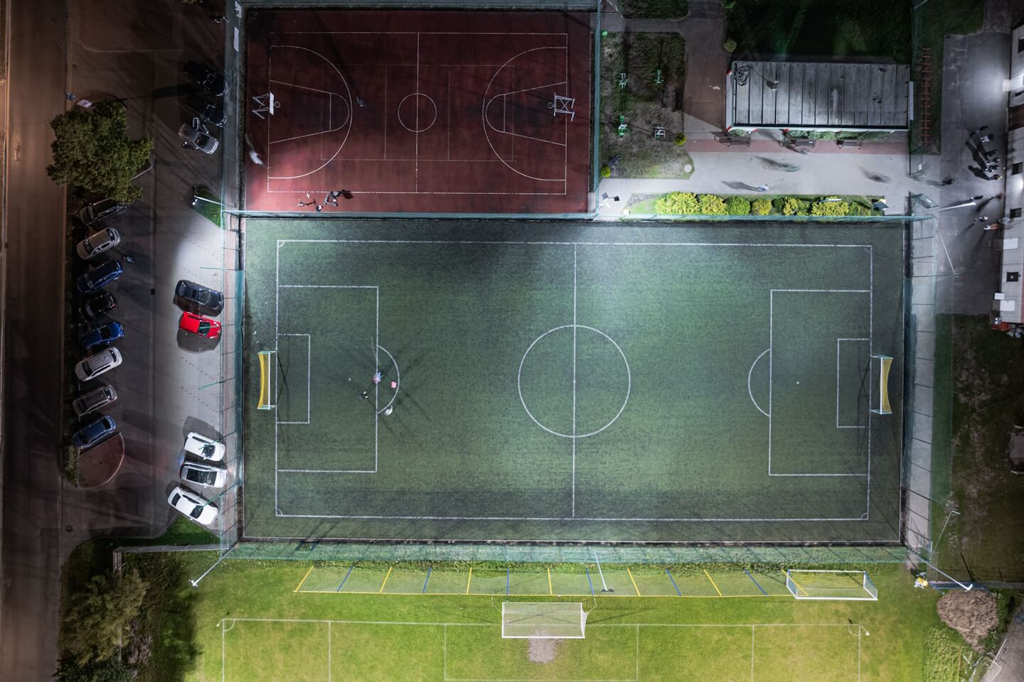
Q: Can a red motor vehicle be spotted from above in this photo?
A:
Yes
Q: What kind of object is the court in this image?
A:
basketball court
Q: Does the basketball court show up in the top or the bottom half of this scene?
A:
top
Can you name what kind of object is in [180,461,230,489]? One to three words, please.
car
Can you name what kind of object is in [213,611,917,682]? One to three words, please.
sports field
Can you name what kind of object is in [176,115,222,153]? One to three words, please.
car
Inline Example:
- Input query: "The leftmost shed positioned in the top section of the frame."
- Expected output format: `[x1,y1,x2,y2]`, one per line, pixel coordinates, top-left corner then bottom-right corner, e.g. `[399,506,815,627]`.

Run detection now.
[724,60,912,131]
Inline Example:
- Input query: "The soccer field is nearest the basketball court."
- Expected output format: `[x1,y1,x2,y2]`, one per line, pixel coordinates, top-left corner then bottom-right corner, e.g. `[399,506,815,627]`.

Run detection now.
[242,219,905,545]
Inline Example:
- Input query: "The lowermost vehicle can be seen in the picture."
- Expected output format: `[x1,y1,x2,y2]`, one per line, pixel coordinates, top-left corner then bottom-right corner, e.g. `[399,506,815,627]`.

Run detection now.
[169,487,220,523]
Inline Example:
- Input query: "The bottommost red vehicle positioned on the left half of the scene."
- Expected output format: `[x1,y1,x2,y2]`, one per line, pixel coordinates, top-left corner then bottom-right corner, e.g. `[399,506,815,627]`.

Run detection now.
[180,313,223,339]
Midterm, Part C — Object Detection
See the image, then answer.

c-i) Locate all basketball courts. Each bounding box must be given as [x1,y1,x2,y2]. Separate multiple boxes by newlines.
[245,10,593,213]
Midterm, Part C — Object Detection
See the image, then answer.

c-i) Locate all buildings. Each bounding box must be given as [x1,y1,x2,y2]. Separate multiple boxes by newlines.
[724,60,912,131]
[1000,23,1024,327]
